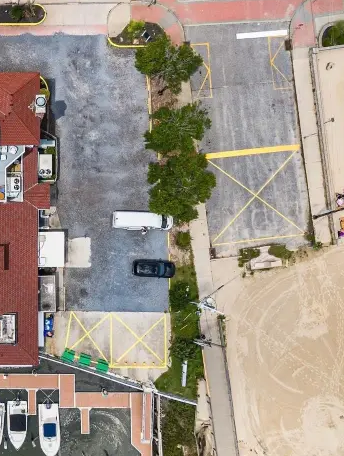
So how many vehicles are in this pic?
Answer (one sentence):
The count of vehicles comes to 2.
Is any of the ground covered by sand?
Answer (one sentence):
Yes, there's sand in this view.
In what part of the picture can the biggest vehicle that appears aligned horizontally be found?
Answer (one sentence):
The biggest vehicle that appears aligned horizontally sits in the center section of the image.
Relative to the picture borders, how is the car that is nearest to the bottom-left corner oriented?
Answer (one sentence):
In this picture, the car that is nearest to the bottom-left corner is oriented horizontally.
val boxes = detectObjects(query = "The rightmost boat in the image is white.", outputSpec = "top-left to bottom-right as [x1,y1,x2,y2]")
[38,393,60,456]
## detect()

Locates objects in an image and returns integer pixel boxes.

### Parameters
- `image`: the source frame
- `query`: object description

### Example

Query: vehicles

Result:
[131,258,173,278]
[111,211,173,232]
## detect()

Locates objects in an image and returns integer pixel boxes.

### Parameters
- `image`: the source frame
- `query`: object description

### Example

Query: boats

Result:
[38,393,60,456]
[7,392,28,451]
[0,401,5,446]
